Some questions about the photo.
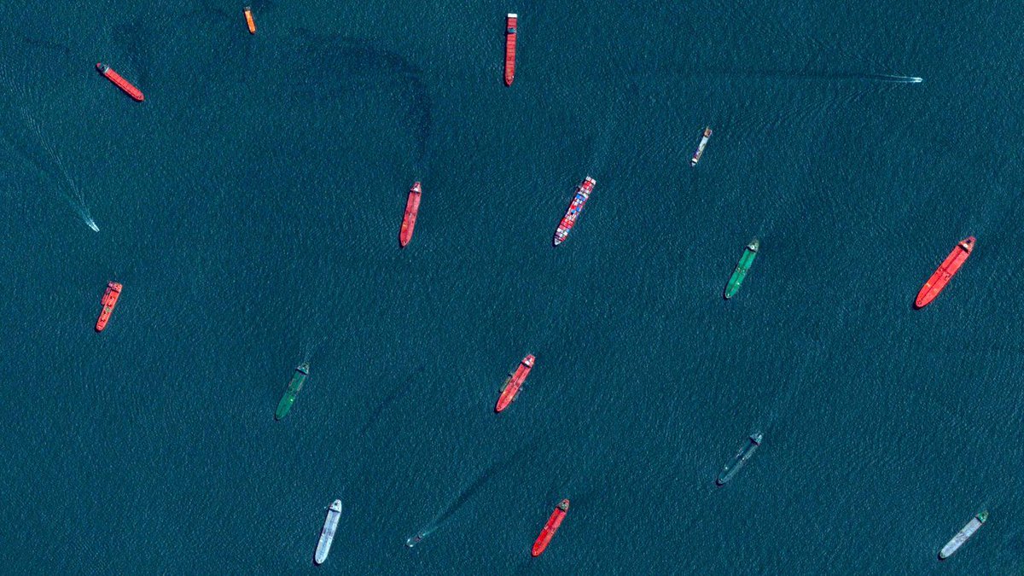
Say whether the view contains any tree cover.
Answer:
No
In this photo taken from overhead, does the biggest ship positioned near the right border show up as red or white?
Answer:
red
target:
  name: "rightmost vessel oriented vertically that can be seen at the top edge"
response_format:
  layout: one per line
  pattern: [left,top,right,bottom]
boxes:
[505,15,517,86]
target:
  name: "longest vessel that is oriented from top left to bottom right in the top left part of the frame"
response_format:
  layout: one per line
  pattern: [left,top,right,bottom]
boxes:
[95,64,145,101]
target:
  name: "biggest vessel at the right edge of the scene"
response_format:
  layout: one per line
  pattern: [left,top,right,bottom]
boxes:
[916,236,976,307]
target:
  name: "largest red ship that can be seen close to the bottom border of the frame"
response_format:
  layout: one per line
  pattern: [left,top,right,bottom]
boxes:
[532,498,569,556]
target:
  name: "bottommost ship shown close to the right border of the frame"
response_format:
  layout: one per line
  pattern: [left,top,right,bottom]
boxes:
[941,510,988,558]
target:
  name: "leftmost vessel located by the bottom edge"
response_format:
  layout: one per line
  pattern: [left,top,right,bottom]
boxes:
[315,499,341,564]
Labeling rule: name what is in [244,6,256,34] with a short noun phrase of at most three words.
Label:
ship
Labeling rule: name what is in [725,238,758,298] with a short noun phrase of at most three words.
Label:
ship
